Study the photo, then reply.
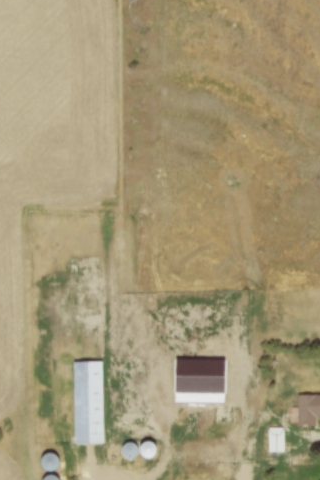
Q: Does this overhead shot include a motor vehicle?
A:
No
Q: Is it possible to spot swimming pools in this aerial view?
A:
No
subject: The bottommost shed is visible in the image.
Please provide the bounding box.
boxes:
[268,427,284,454]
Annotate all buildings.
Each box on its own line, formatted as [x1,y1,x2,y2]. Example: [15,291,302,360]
[175,358,227,406]
[268,427,284,454]
[290,394,320,428]
[73,360,104,444]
